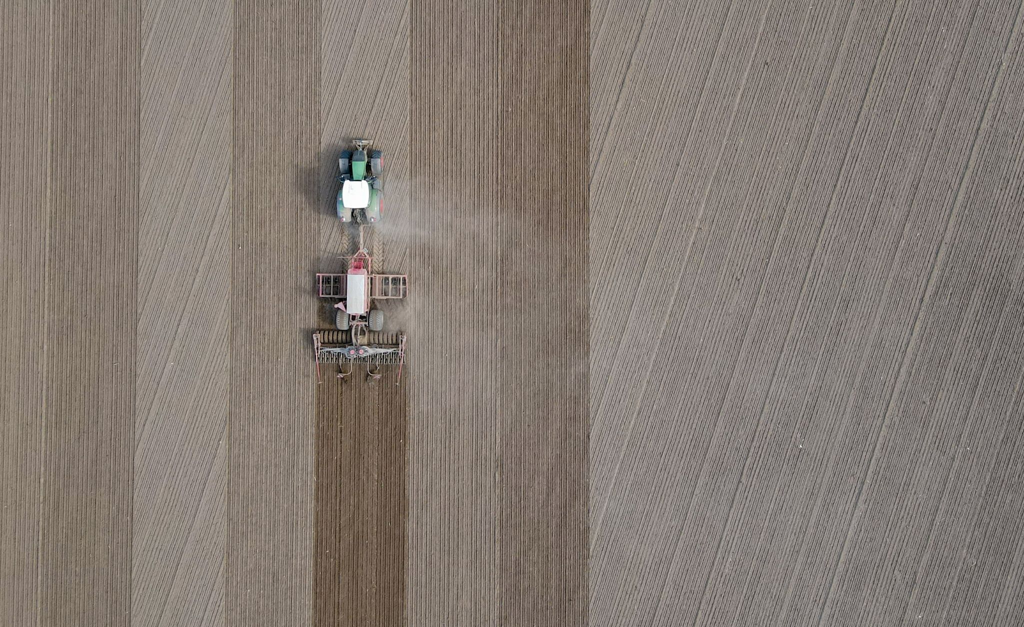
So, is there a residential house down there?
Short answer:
No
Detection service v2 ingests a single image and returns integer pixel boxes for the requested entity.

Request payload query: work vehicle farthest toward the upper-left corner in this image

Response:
[335,138,385,229]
